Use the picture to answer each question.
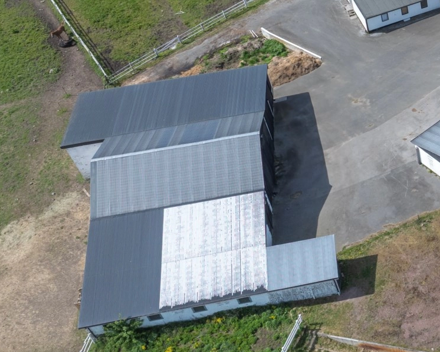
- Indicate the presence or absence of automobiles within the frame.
No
